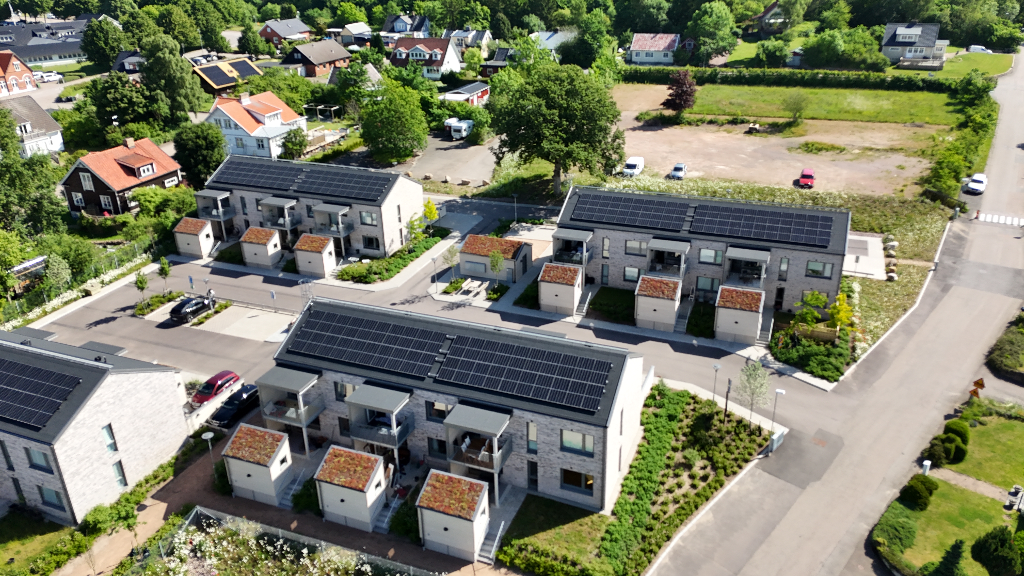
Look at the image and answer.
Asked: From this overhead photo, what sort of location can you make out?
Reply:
residential area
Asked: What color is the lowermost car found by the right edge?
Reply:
white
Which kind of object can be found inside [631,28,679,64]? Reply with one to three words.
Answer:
house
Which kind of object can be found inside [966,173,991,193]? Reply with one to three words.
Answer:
car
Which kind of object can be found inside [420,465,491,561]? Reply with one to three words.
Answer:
shed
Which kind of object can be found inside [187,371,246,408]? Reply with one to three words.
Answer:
car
